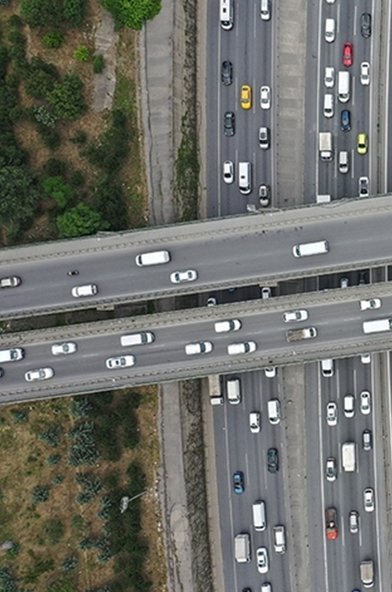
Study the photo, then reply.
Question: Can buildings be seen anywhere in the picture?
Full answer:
No, no building is visible in the scene.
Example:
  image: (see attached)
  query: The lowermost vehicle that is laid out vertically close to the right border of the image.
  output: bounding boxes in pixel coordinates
[359,557,374,589]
